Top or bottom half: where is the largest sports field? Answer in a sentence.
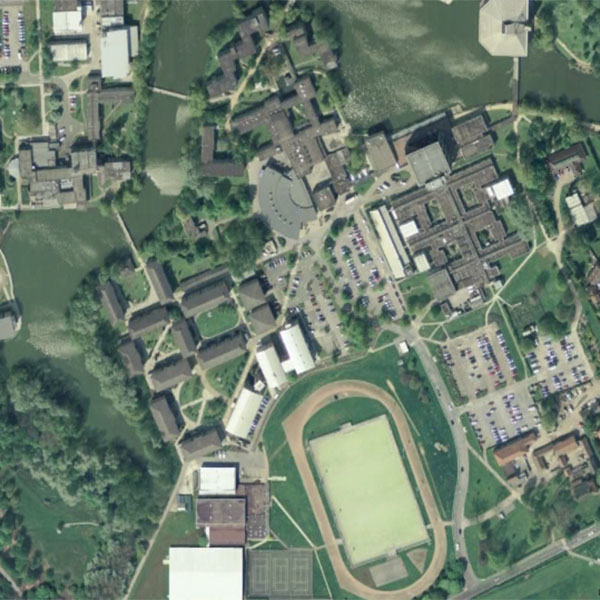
You can find the largest sports field in the bottom half.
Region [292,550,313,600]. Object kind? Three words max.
tennis court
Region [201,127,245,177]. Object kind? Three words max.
house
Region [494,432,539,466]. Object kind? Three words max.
barn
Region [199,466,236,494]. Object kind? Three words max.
building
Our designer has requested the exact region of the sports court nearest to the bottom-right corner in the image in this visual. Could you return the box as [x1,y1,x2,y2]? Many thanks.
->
[370,558,408,587]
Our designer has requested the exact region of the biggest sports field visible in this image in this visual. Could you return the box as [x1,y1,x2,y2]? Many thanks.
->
[309,414,431,568]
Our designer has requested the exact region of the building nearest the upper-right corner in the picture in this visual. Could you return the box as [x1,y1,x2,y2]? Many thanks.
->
[478,0,531,57]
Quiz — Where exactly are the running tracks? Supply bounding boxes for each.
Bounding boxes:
[282,381,446,600]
